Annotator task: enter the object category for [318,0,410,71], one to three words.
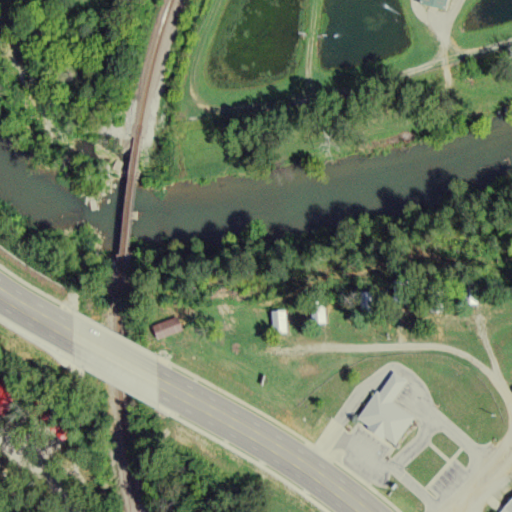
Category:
pond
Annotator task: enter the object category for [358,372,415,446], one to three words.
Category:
building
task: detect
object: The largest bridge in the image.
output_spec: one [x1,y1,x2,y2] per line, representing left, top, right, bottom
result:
[69,306,161,413]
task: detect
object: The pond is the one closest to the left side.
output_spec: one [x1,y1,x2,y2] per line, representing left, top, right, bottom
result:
[214,0,300,88]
